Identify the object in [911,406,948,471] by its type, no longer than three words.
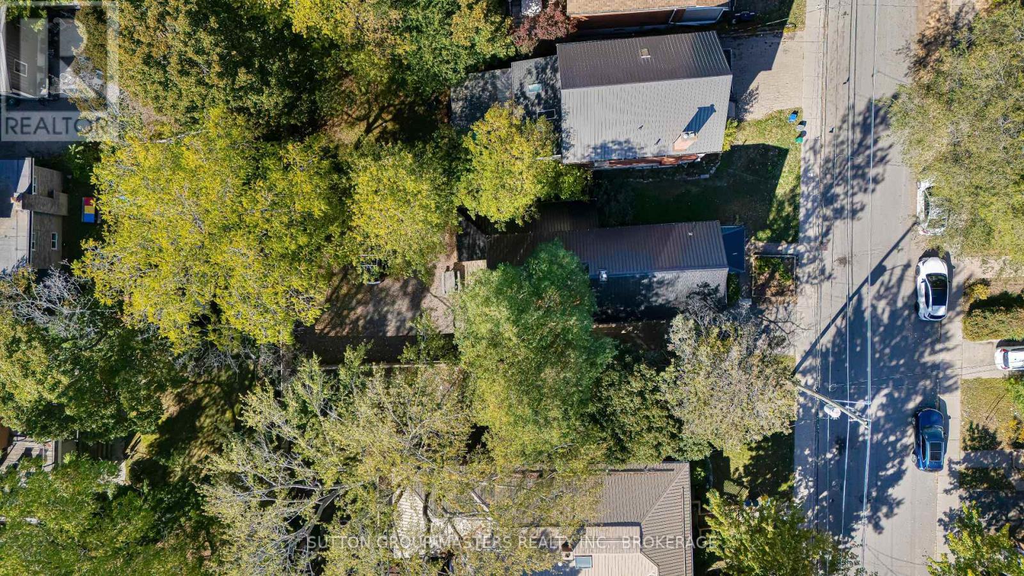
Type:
car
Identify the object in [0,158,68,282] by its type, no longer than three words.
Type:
house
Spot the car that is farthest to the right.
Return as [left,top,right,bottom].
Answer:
[991,344,1024,370]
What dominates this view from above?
trees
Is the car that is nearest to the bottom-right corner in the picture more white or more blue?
blue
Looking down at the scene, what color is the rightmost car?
white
